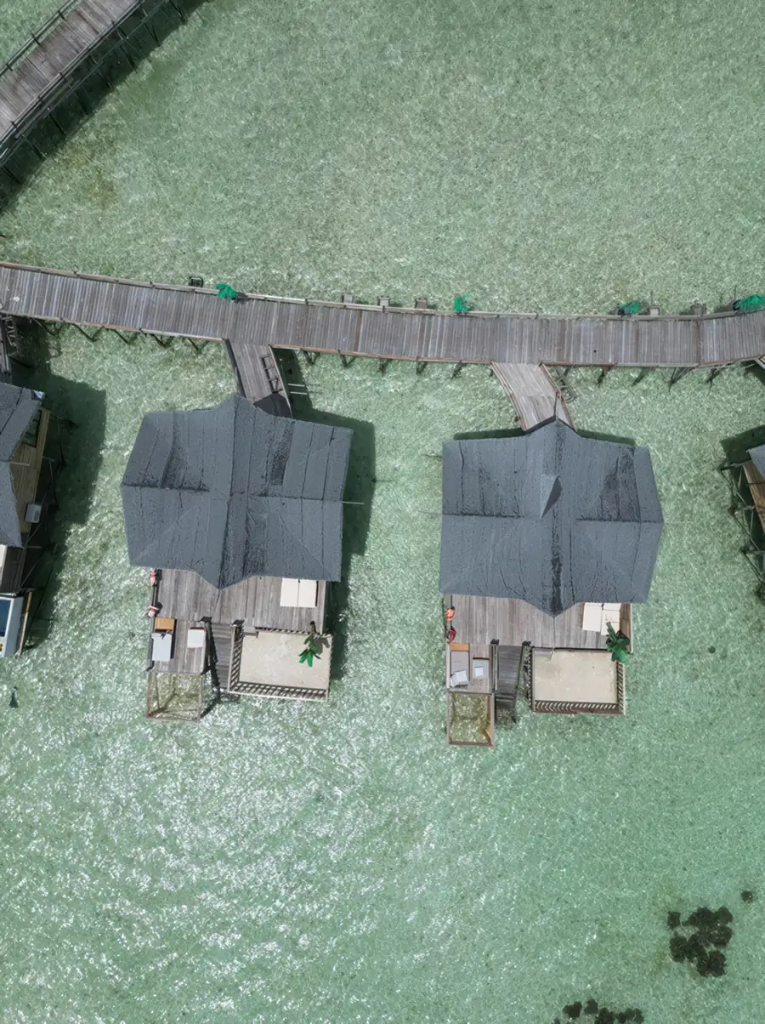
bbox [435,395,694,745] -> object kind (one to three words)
house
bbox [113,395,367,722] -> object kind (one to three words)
house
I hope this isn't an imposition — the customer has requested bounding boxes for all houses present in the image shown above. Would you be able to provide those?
[0,391,72,663]
[435,395,694,745]
[711,442,765,611]
[113,395,367,722]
